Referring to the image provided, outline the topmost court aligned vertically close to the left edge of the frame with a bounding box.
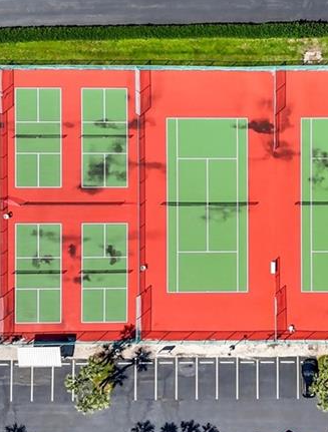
[12,88,63,188]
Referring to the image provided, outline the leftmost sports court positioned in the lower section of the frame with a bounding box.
[12,223,63,323]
